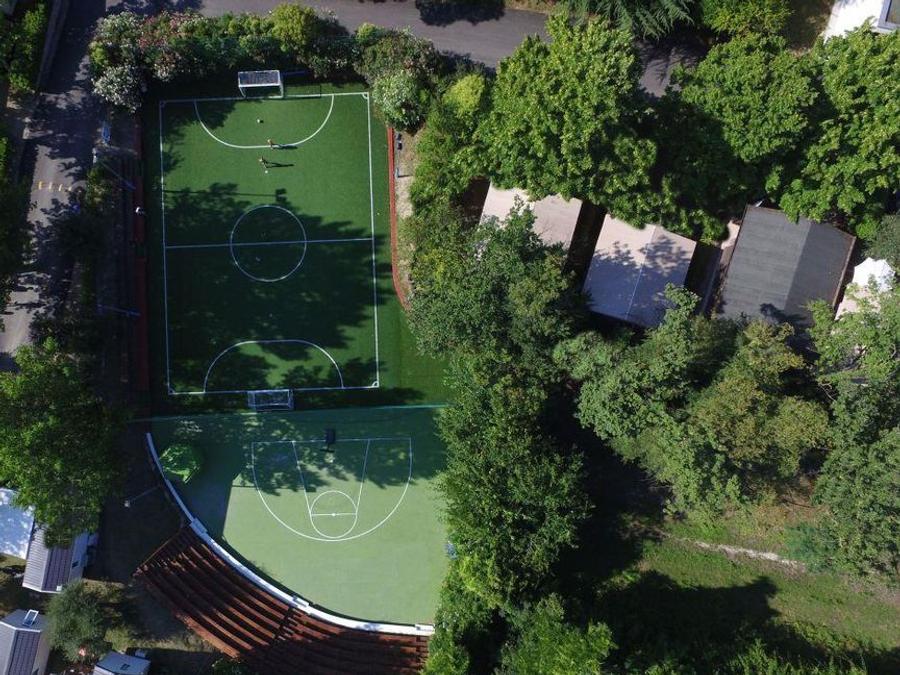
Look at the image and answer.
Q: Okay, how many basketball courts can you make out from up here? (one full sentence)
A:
The photo contains exactly 1 basketball court.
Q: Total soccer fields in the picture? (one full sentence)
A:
Altogether the scene contains 1 soccer field.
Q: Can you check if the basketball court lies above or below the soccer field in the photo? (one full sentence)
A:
Looking at the scene, the basketball court is located below the soccer field.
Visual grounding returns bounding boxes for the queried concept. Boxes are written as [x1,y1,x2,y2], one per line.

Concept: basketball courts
[147,407,461,628]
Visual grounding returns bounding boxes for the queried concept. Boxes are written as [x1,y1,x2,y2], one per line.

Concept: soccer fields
[146,67,454,420]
